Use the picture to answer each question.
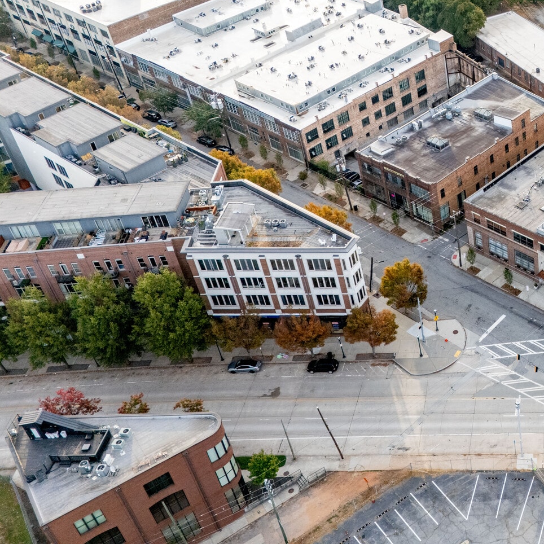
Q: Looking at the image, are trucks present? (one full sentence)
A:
No, the scene contains no truck.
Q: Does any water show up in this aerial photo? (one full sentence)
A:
No, no water is visible.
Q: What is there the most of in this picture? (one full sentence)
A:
The bulk of the photo consists of buildings.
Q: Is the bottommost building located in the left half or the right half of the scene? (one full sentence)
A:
You can find the bottommost building on the left side of the picture.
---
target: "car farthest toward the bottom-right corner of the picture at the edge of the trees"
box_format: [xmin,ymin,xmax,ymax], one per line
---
[305,357,340,375]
